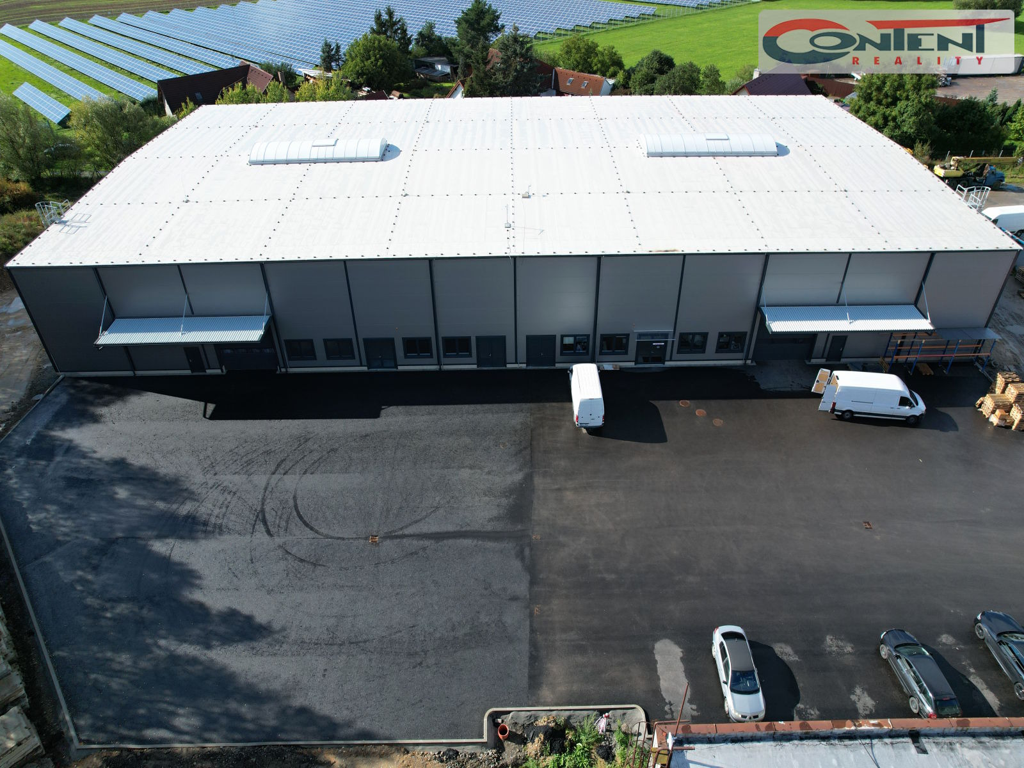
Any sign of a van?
Yes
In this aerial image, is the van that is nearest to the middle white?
Yes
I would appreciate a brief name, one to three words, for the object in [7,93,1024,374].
warehouse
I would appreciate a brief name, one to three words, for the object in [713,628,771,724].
car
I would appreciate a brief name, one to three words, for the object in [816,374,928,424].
van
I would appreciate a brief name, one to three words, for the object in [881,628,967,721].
car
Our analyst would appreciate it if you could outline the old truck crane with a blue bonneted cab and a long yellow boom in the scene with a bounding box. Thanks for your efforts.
[927,157,1024,192]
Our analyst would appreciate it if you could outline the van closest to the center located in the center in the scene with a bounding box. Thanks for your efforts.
[567,365,605,425]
